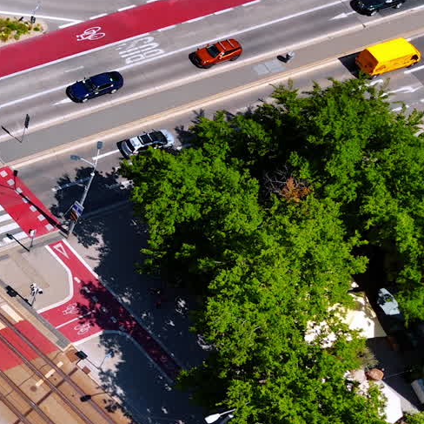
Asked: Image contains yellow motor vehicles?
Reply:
Yes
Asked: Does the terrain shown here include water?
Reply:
No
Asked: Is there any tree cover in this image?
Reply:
Yes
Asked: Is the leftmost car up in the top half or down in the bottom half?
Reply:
top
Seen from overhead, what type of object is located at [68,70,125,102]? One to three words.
car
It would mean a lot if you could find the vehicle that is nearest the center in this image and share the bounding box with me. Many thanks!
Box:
[121,125,178,158]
